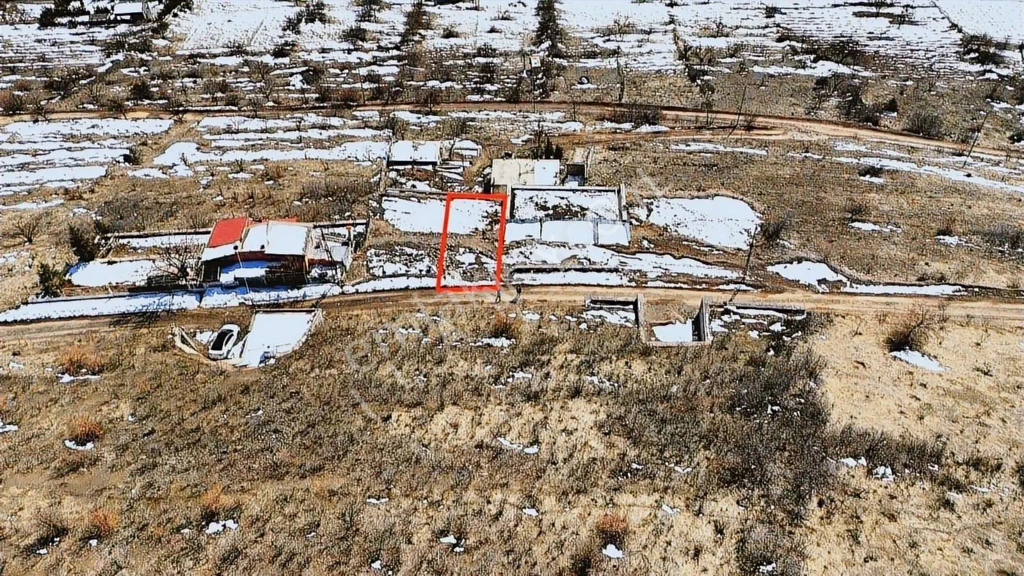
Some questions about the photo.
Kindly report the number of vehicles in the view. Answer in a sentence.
I count just 1 vehicle.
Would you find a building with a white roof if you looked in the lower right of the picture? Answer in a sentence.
No, no building with a white roof appears in the lower right of the picture.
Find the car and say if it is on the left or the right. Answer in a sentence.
The car sits on the left side.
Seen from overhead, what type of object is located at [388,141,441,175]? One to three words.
shed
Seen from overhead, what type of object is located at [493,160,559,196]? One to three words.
building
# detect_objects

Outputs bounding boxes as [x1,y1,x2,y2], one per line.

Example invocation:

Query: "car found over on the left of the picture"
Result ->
[203,324,239,361]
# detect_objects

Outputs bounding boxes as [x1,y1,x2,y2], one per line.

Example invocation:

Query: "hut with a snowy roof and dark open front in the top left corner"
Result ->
[114,2,146,24]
